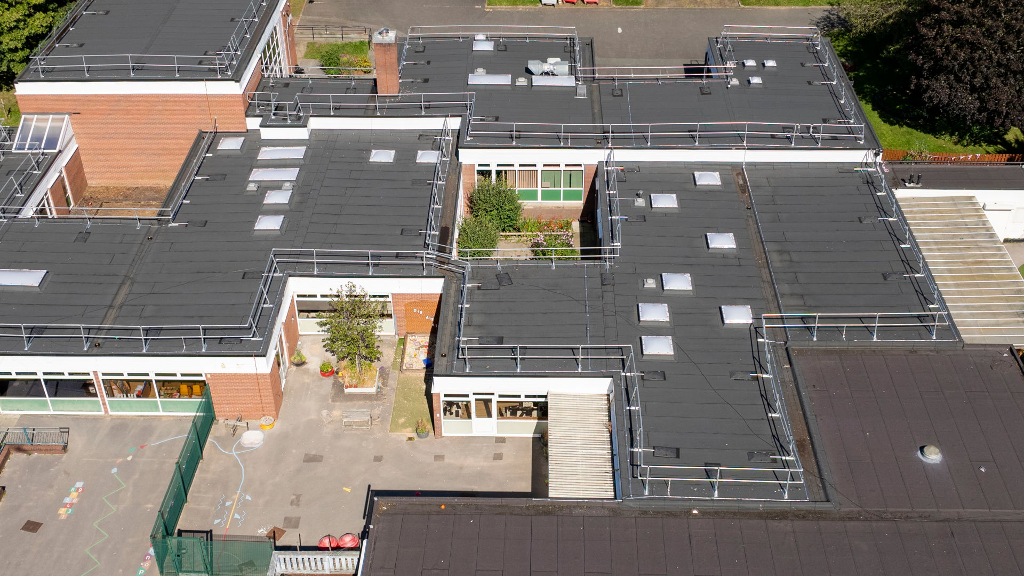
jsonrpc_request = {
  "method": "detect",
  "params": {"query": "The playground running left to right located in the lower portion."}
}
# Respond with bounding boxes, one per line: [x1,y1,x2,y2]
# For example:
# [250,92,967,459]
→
[0,333,562,576]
